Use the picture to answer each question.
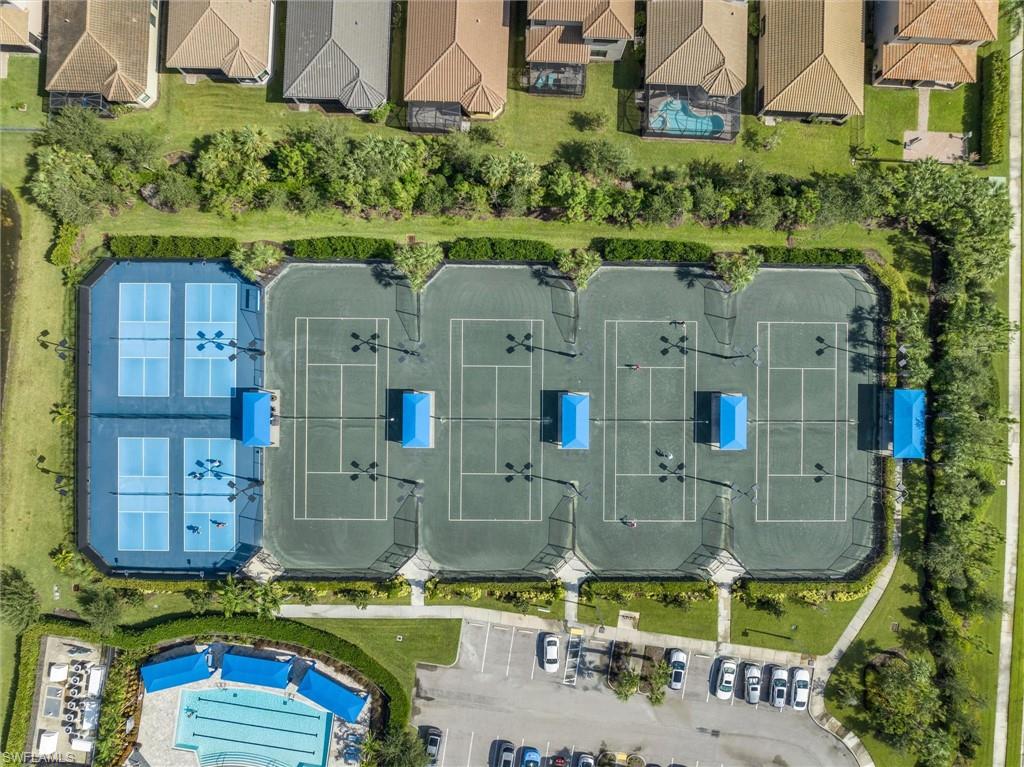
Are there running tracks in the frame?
No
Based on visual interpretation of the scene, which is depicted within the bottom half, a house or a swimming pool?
swimming pool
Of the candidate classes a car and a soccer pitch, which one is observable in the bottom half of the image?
car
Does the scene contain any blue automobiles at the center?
No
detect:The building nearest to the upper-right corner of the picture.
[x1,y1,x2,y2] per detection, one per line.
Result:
[873,0,998,87]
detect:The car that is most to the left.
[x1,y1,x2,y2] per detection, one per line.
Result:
[423,728,443,767]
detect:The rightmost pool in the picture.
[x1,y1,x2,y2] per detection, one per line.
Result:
[649,97,725,135]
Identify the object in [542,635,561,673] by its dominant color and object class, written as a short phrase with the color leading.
white car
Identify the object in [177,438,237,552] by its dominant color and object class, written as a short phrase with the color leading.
blue sports court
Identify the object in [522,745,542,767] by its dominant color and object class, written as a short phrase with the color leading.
blue car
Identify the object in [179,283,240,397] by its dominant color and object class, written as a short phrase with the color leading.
blue sports court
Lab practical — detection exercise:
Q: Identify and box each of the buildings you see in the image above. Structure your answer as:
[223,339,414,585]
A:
[645,0,746,105]
[284,0,390,118]
[757,0,865,120]
[45,0,158,110]
[0,0,41,53]
[405,0,507,121]
[873,0,998,87]
[525,0,634,71]
[165,0,275,88]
